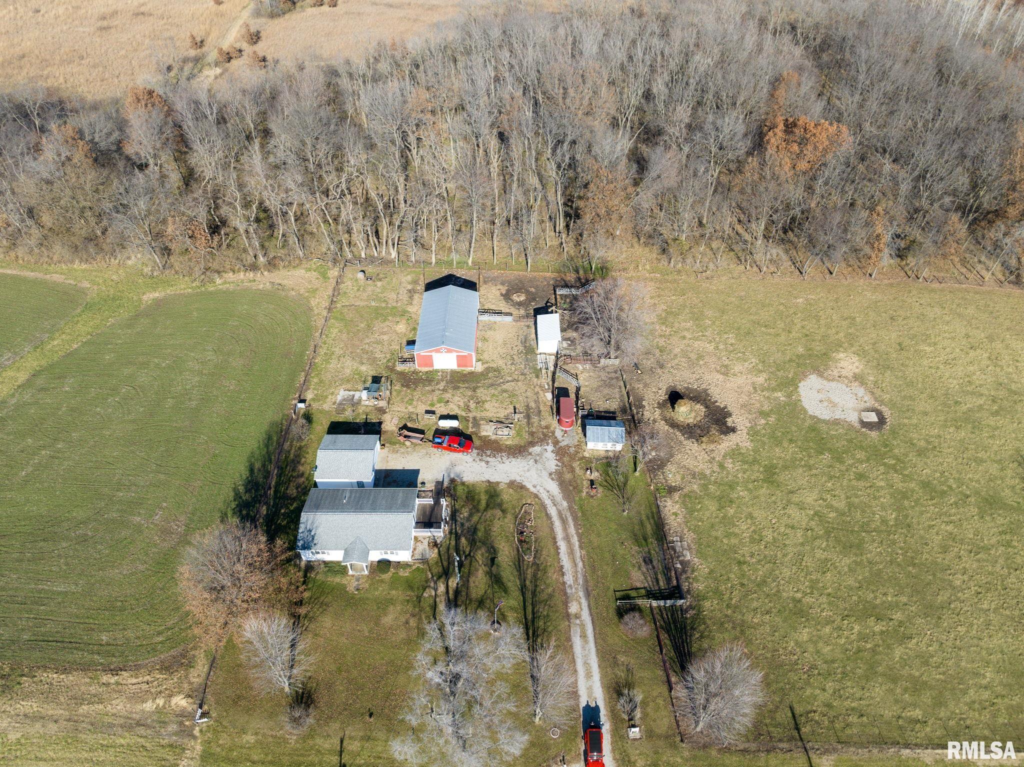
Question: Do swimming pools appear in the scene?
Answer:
No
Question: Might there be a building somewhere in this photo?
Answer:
Yes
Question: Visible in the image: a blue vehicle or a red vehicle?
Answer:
red vehicle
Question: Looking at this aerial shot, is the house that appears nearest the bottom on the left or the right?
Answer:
left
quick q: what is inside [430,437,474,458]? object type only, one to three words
truck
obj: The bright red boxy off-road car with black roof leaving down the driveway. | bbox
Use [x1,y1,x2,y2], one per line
[584,730,606,767]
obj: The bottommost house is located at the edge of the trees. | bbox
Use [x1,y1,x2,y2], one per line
[295,488,418,575]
